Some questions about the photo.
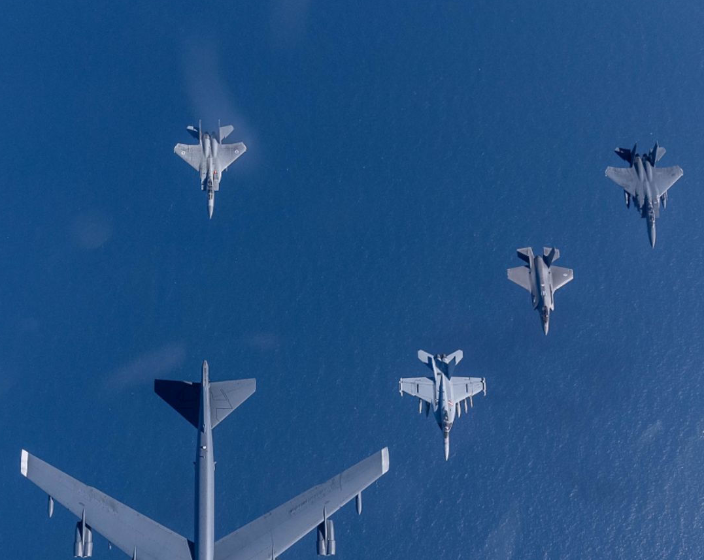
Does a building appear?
No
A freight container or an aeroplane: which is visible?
aeroplane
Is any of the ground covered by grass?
No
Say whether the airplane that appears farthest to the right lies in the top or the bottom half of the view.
top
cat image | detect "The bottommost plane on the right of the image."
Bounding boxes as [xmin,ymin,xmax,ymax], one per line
[400,350,485,461]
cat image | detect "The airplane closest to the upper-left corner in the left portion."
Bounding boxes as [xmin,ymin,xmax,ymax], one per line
[175,118,246,219]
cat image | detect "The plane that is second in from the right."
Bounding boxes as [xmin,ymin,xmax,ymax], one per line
[506,247,574,335]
